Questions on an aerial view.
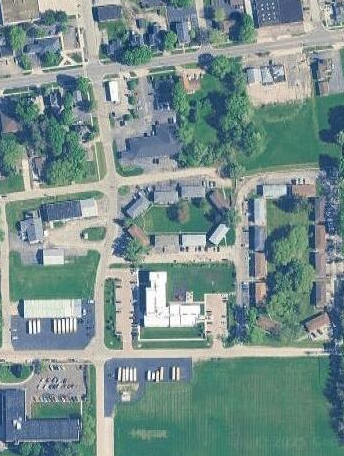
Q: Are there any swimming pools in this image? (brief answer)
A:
No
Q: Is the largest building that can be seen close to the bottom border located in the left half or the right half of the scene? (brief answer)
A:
left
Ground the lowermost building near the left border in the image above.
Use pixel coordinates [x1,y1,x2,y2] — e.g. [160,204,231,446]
[6,390,79,442]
